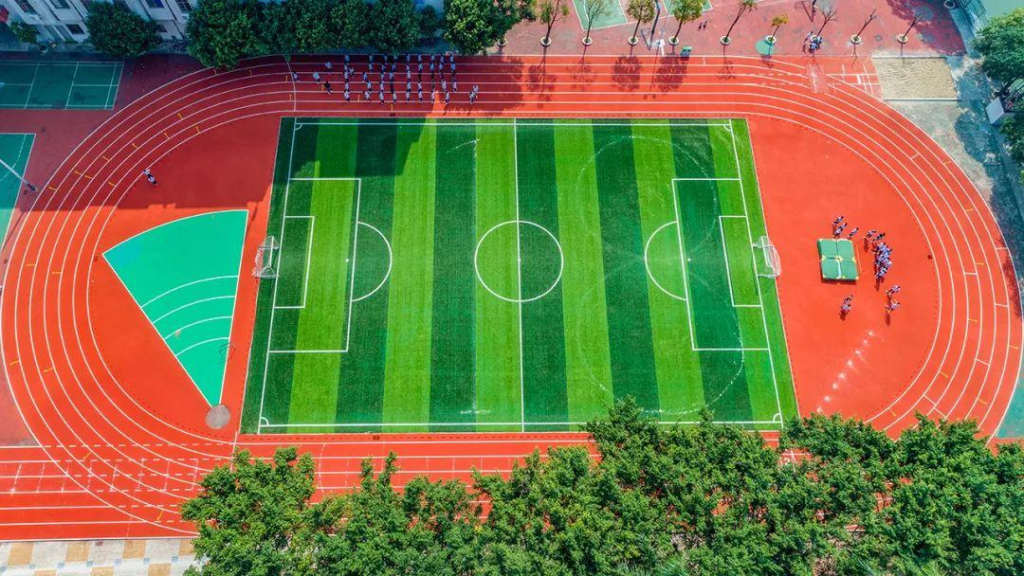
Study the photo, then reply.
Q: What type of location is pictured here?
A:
sports ground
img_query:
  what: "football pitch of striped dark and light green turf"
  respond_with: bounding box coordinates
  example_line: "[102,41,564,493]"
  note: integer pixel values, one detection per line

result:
[239,116,800,435]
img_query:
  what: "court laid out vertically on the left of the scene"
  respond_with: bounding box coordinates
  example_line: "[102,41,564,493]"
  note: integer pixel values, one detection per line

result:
[0,133,36,256]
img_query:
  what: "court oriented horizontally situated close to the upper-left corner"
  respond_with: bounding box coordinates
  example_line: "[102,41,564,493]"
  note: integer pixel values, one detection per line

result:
[0,61,125,109]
